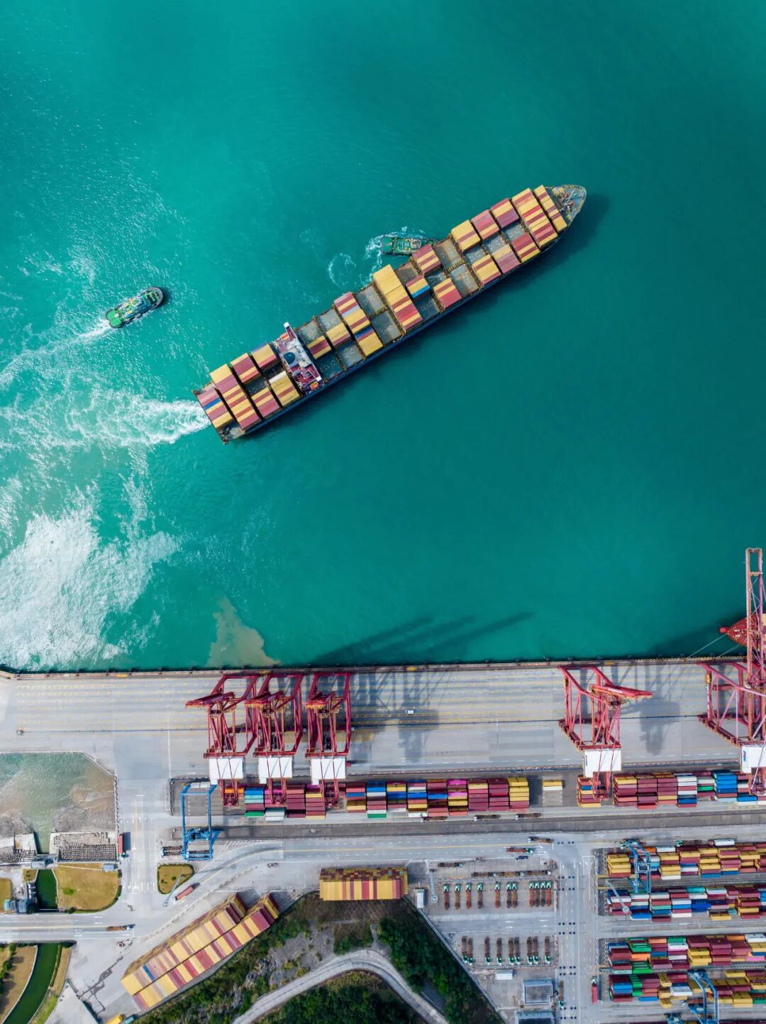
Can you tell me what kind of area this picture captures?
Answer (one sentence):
What you see here is a port.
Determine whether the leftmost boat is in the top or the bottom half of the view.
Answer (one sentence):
The top half of the photo is where the leftmost boat is.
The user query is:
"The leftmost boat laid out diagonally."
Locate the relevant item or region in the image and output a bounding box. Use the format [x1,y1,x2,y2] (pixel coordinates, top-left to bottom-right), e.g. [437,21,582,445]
[103,285,162,328]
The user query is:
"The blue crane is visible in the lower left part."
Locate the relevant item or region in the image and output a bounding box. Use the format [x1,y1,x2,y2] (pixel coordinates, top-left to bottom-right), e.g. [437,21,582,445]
[179,784,220,860]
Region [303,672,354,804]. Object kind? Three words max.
container crane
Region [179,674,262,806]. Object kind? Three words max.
container crane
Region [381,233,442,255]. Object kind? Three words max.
boat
